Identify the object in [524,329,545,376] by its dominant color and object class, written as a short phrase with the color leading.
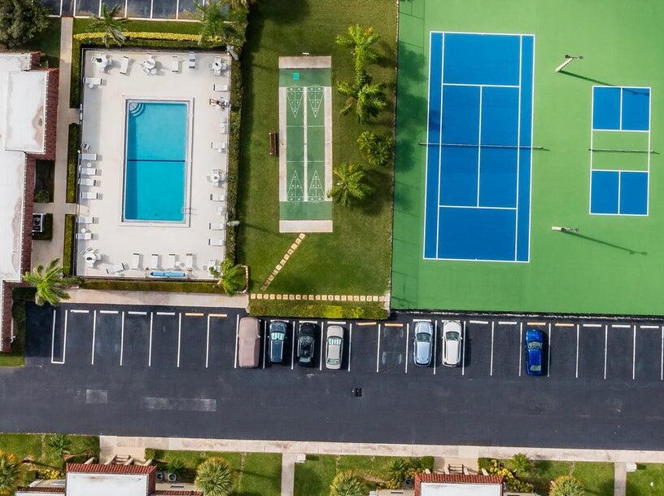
blue car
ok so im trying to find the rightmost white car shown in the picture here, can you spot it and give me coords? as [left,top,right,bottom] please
[442,320,464,367]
